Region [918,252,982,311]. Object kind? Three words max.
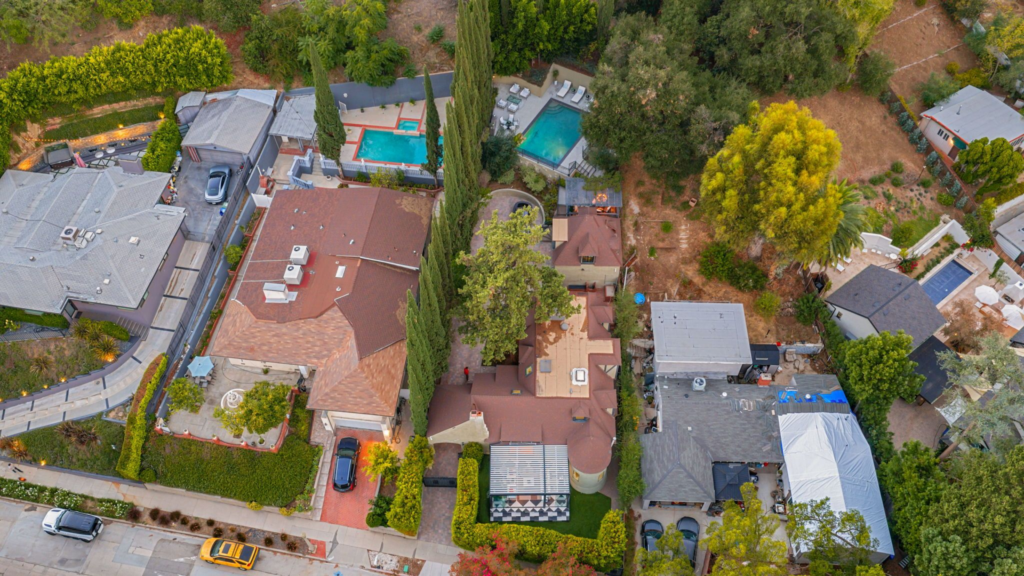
swimming pool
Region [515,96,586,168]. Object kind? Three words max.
swimming pool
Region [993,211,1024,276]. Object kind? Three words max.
shed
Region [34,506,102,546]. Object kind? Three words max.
car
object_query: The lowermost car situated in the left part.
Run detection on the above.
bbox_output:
[194,535,257,574]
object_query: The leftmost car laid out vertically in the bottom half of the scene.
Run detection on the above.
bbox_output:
[328,437,360,493]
